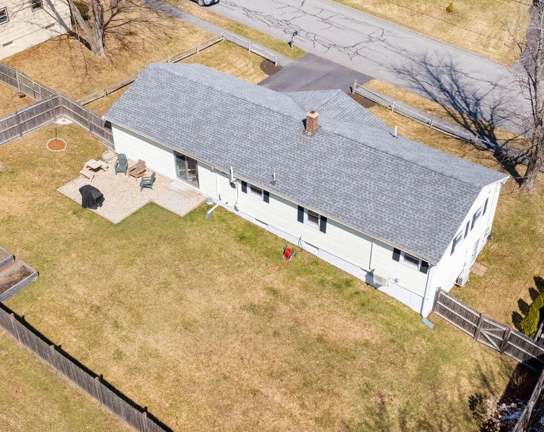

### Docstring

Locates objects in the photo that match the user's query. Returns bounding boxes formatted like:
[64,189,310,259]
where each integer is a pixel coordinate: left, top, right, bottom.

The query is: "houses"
[0,0,71,62]
[100,63,511,315]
